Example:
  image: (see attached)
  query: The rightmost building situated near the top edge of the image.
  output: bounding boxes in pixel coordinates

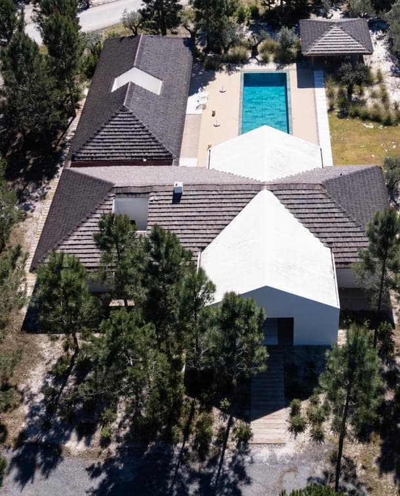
[298,17,375,77]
